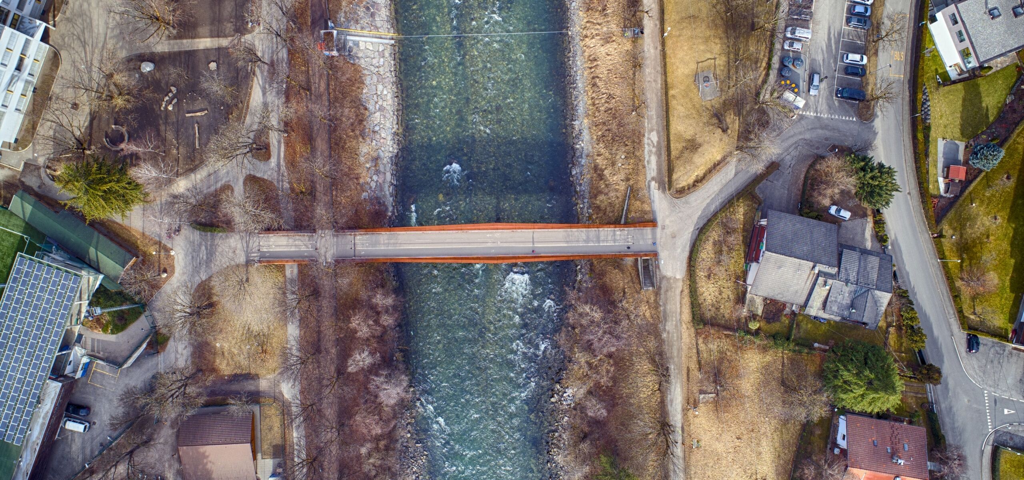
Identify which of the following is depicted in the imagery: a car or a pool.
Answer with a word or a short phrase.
car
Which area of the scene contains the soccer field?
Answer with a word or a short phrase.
left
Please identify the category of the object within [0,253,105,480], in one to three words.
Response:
building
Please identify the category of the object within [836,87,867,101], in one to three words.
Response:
car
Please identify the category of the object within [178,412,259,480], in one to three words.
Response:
building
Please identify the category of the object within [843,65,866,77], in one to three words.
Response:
vehicle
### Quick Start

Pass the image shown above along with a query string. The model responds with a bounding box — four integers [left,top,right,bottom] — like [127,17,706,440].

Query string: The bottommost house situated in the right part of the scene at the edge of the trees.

[833,409,930,480]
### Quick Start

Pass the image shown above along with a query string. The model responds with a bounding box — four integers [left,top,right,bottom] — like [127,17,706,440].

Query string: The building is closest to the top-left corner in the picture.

[0,0,61,146]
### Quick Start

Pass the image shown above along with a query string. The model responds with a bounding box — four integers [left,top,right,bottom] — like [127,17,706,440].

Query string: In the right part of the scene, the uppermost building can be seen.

[919,0,1024,81]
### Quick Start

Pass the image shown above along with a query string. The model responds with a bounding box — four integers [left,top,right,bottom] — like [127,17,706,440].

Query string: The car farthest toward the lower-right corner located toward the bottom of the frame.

[965,332,981,355]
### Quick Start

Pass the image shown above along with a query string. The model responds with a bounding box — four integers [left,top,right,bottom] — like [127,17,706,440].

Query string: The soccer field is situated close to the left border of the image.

[0,204,86,300]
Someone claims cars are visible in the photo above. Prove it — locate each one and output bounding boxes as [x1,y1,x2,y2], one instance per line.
[847,4,872,17]
[965,332,981,355]
[786,0,812,8]
[785,26,812,40]
[807,71,821,96]
[64,402,92,416]
[782,38,804,52]
[843,65,866,77]
[826,204,852,221]
[787,8,814,20]
[845,16,871,29]
[836,87,867,101]
[842,52,867,65]
[847,0,873,5]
